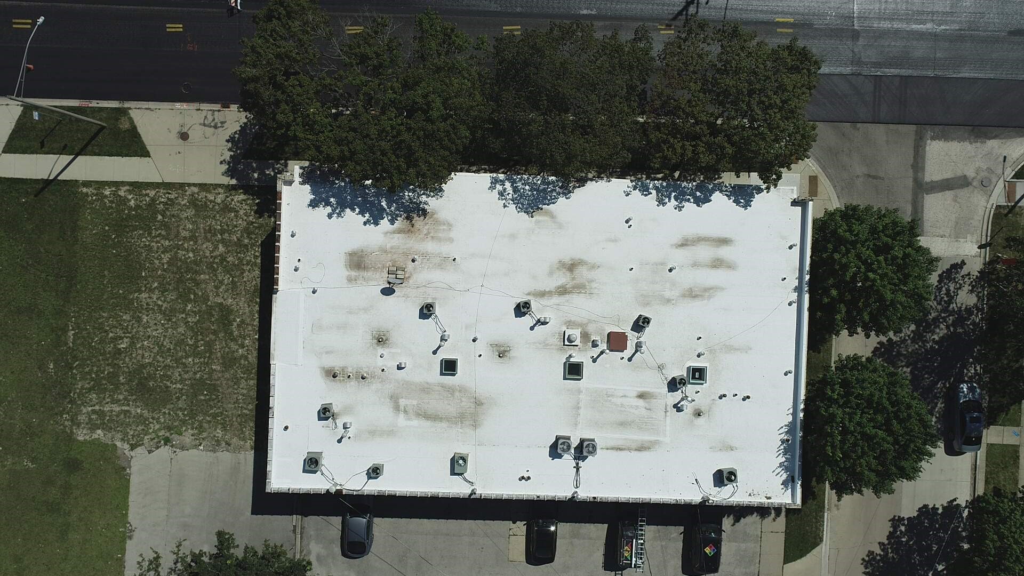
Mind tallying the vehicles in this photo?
5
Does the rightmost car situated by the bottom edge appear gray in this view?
No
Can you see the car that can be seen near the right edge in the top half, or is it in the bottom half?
bottom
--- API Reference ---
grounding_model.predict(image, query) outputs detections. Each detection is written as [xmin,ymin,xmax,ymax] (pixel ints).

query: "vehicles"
[688,504,726,574]
[526,500,560,564]
[343,494,376,559]
[947,381,987,453]
[610,502,644,568]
